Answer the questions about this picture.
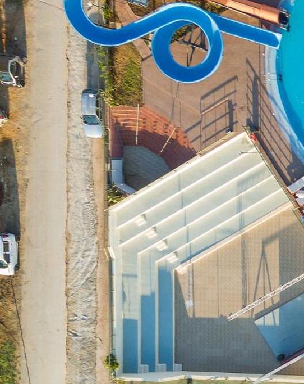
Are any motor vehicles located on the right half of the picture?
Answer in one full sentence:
No, no motor vehicle is visible on the right half of the picture.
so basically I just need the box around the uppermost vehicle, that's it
[0,52,27,89]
